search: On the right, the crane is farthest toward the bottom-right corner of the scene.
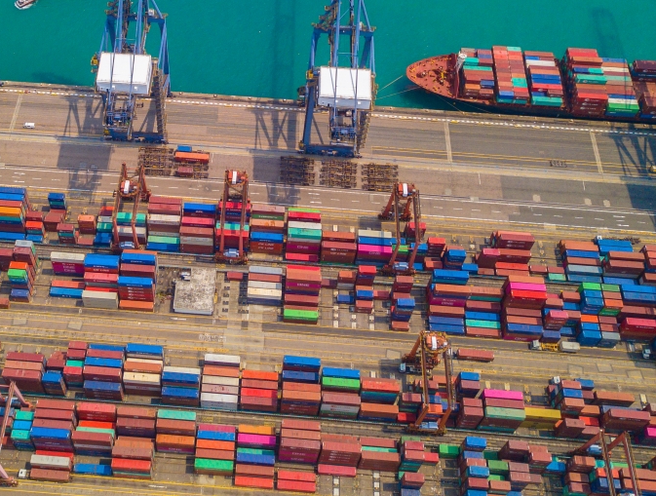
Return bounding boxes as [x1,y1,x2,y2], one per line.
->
[565,426,638,496]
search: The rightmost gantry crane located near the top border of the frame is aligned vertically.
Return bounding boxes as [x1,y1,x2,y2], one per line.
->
[299,0,375,162]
